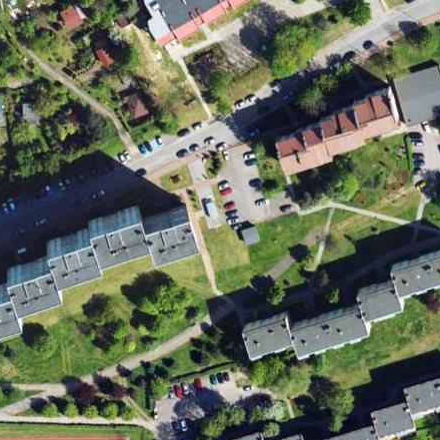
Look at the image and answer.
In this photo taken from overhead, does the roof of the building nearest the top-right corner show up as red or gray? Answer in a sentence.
In this view, the roof of the building nearest the top-right corner is gray.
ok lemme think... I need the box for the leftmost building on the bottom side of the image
[0,209,199,340]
